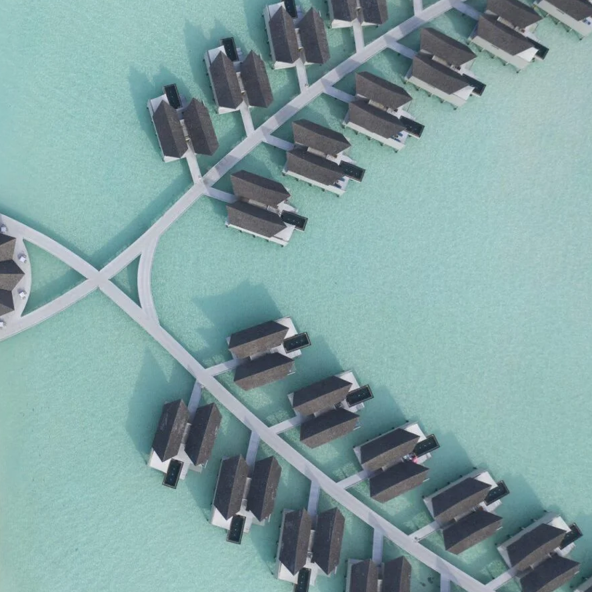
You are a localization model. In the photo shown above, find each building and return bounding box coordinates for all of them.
[145,85,217,167]
[223,315,307,391]
[460,0,543,77]
[395,29,480,113]
[221,171,304,248]
[269,501,345,591]
[277,119,361,198]
[413,462,503,554]
[321,0,386,36]
[206,450,282,538]
[201,39,271,120]
[345,416,433,502]
[339,549,411,592]
[259,0,330,76]
[336,72,420,155]
[485,504,580,592]
[282,366,368,448]
[145,397,222,483]
[525,0,592,44]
